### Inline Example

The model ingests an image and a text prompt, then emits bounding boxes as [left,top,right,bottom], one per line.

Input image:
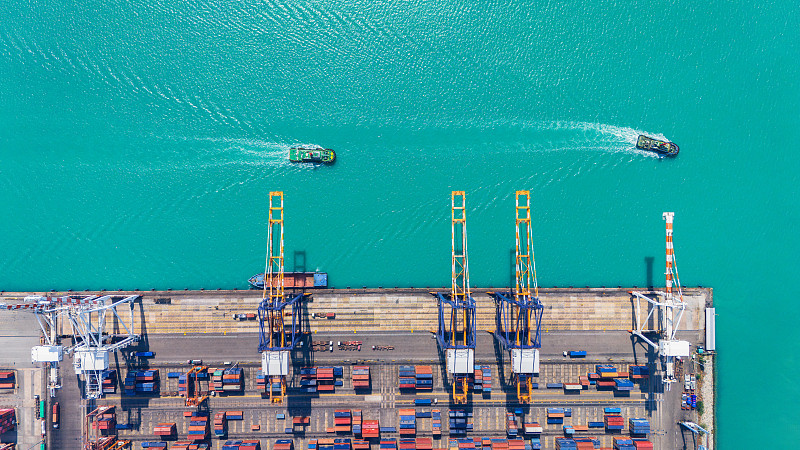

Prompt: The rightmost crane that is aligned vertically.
[623,211,689,391]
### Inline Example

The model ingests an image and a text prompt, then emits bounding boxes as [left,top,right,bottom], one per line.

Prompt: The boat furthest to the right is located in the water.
[636,134,680,157]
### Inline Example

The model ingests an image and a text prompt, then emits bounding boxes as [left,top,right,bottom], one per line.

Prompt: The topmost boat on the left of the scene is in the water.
[289,147,336,164]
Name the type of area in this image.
port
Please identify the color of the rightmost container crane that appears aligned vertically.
white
